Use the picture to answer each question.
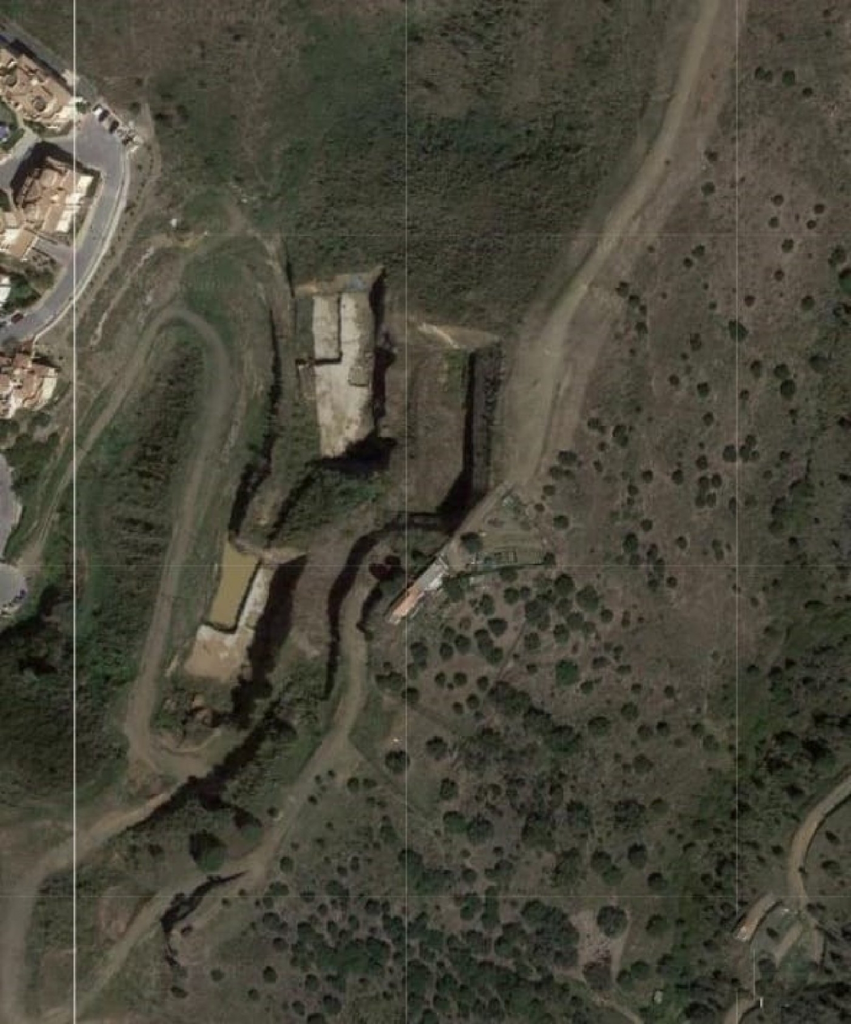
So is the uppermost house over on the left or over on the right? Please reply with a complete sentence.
It is on the left.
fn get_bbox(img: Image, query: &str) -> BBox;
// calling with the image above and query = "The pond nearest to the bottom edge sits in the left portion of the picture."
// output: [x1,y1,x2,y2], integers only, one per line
[211,540,259,629]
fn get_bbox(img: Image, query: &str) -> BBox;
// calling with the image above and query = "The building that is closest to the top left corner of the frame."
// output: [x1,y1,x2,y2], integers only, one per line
[0,48,83,132]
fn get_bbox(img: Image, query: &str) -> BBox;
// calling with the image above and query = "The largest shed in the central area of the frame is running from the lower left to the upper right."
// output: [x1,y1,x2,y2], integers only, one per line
[389,557,449,625]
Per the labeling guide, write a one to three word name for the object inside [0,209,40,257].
house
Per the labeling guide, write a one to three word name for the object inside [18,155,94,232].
house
